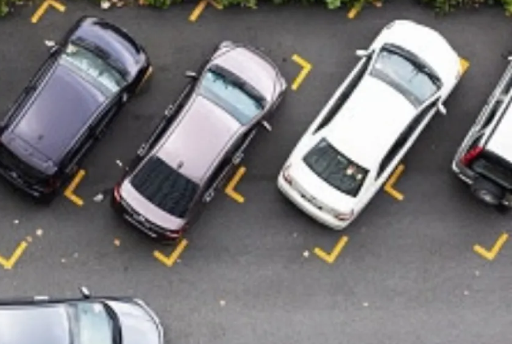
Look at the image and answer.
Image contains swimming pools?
No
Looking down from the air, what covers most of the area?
paved ground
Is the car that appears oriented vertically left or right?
right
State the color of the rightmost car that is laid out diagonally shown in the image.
white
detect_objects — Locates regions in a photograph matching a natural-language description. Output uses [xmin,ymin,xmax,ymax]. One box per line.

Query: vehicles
[451,66,512,208]
[113,38,287,248]
[0,286,167,344]
[0,11,147,207]
[278,14,459,234]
